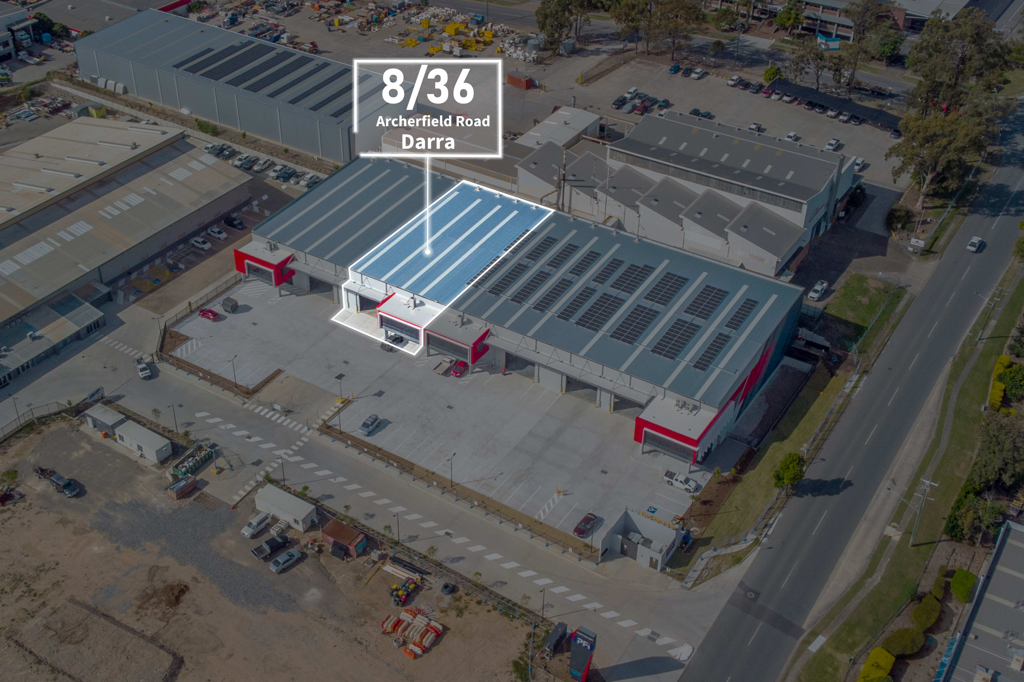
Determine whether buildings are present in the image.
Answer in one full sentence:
Yes, this view includes a building.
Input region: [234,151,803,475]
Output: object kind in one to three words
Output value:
warehouse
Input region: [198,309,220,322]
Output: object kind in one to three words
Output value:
vehicle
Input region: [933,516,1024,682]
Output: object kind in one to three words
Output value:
building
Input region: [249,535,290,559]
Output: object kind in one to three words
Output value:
truck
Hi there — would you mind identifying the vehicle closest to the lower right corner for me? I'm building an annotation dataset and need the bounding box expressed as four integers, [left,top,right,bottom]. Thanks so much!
[662,468,698,493]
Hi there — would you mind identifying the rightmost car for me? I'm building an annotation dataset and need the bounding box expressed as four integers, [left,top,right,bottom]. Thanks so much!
[967,237,982,252]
